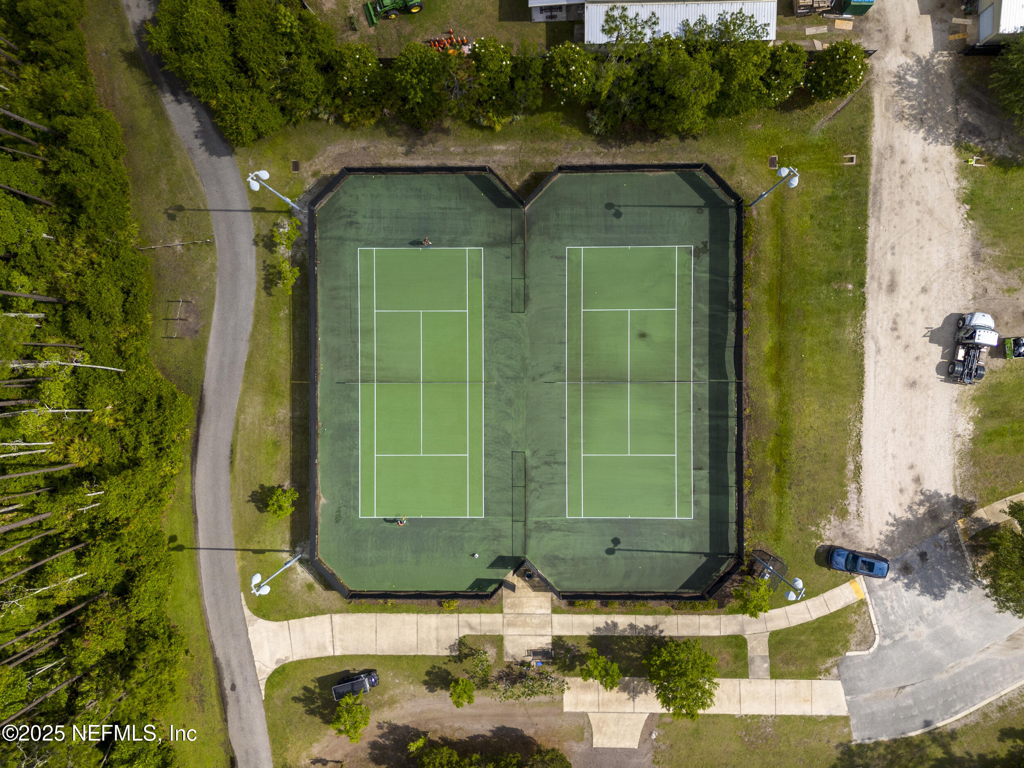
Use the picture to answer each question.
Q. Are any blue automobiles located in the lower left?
No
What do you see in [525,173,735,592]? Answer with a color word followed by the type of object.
green tennis court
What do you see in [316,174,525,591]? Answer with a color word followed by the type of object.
green tennis court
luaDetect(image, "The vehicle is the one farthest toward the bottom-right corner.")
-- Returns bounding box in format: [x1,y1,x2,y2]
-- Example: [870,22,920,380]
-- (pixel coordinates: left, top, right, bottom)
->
[825,549,893,579]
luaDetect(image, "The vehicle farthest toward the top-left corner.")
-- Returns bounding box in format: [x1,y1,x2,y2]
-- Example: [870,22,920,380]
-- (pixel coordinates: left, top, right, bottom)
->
[370,0,424,27]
